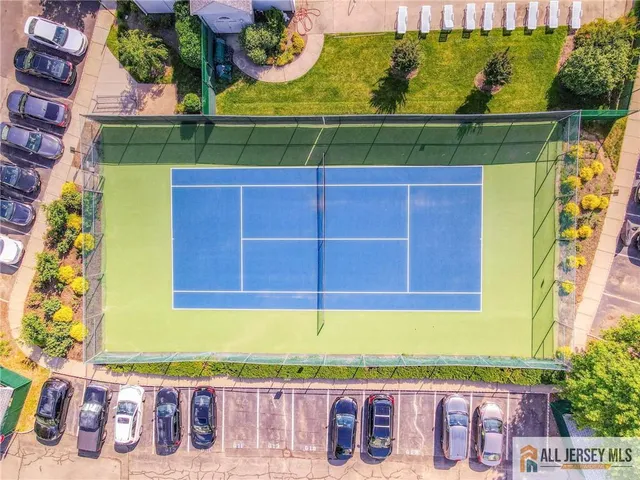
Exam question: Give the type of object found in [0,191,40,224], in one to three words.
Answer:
car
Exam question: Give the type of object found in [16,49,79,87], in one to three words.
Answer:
car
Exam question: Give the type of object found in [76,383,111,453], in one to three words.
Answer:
truck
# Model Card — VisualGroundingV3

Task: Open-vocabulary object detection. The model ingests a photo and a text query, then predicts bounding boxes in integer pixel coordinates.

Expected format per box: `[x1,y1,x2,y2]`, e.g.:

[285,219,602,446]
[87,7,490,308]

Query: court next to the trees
[102,121,558,359]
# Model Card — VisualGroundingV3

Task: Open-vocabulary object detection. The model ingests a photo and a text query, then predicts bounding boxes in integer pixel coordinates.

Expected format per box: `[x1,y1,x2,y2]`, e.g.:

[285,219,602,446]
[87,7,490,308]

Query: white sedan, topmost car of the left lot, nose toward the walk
[28,19,91,58]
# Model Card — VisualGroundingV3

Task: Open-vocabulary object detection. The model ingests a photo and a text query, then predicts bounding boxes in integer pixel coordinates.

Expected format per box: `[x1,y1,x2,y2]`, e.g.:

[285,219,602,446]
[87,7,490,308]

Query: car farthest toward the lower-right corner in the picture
[475,399,506,464]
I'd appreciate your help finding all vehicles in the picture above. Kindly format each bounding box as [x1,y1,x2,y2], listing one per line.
[114,384,146,444]
[153,386,184,450]
[189,386,219,446]
[76,383,111,453]
[475,399,506,464]
[11,93,72,128]
[2,121,66,156]
[441,392,472,459]
[0,229,27,258]
[0,191,40,224]
[38,377,75,437]
[330,394,359,458]
[0,158,44,191]
[16,49,79,87]
[28,19,91,58]
[366,393,396,457]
